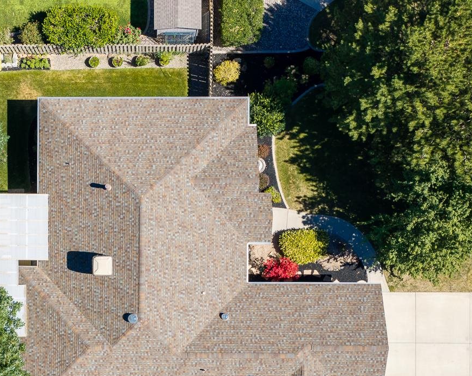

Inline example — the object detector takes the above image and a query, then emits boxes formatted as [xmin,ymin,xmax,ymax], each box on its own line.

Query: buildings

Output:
[22,96,390,376]
[153,0,201,39]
